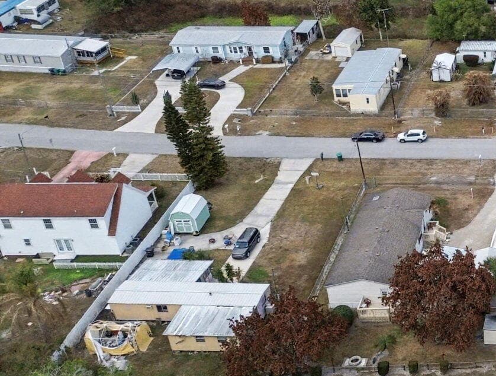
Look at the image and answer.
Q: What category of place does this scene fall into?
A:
residential area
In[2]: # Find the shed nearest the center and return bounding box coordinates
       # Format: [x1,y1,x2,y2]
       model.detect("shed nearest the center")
[166,189,214,235]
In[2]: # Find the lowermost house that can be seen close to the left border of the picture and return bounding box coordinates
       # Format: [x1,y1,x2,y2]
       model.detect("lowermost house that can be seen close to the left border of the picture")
[0,159,165,262]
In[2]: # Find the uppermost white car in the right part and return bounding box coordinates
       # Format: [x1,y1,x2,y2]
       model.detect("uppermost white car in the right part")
[395,129,427,145]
